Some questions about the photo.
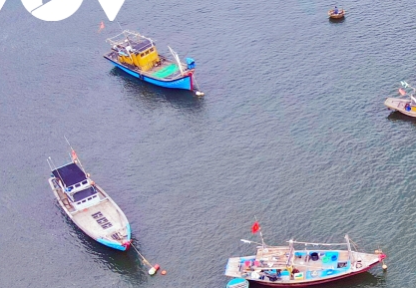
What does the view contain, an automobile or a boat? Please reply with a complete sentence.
Looking from above, you can make out a boat.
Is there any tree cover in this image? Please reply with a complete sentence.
No, the scene doesn't show any tree cover.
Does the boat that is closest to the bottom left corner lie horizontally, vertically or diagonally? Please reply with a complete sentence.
In this picture, the boat that is closest to the bottom left corner lies diagonally.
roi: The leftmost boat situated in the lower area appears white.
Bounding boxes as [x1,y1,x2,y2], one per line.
[37,125,151,269]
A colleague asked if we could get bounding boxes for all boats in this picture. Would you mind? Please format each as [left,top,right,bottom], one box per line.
[223,218,386,286]
[98,23,200,91]
[37,125,151,269]
[328,10,345,20]
[382,80,416,118]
